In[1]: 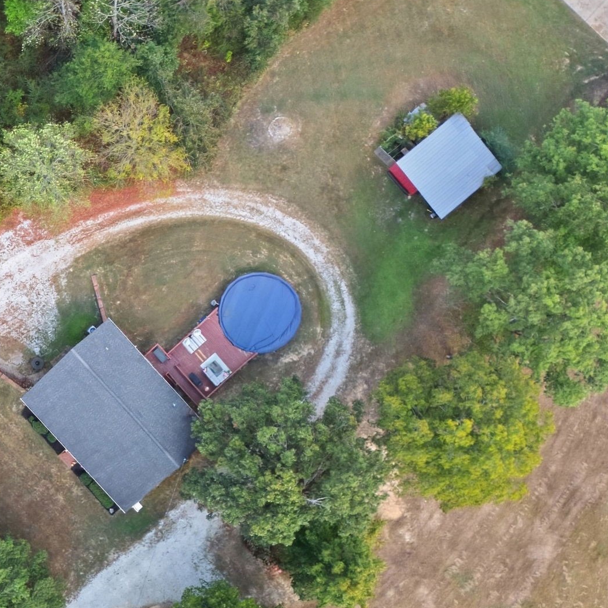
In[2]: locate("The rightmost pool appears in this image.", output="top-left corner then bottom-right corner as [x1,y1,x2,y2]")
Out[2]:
[218,272,302,355]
